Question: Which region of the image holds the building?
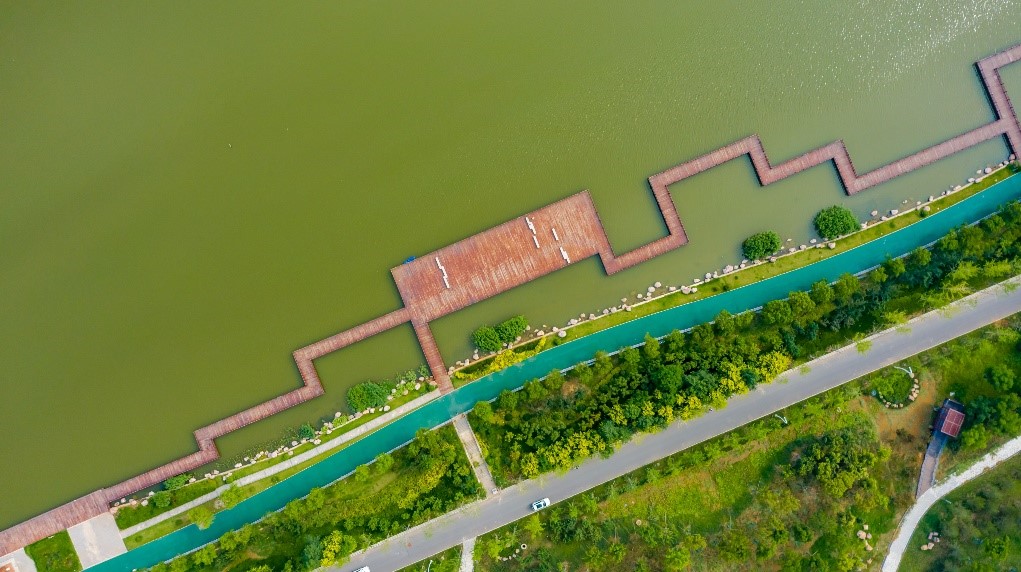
bottom right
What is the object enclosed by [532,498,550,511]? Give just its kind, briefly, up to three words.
vehicle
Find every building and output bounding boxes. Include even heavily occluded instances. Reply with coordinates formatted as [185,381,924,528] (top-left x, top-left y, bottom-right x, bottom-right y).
[931,399,965,437]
